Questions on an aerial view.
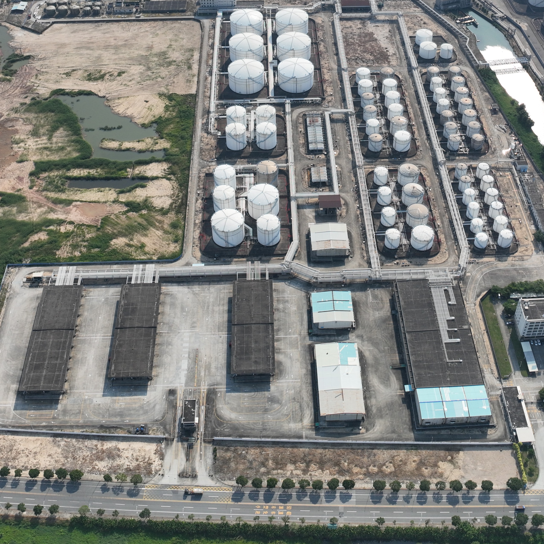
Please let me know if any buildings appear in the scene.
Yes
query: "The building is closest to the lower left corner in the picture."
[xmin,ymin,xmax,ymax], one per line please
[182,399,197,428]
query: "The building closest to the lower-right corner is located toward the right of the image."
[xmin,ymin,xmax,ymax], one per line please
[501,386,529,433]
